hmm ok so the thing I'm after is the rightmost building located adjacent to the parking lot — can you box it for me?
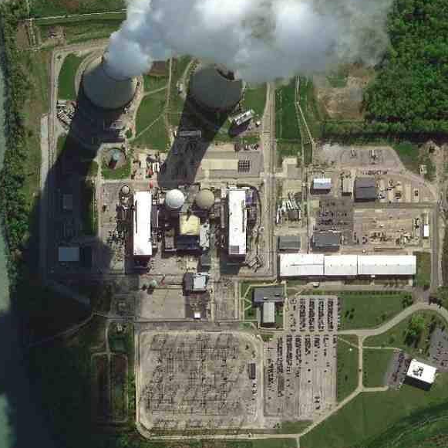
[357,255,416,275]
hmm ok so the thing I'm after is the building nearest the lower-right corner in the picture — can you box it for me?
[405,357,437,386]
